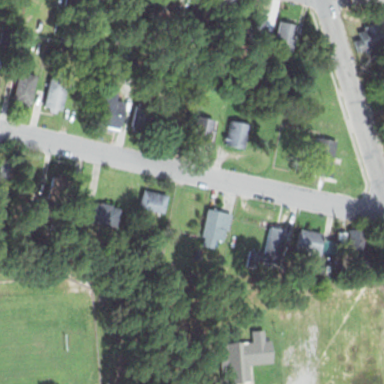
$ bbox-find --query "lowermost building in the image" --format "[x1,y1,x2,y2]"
[222,328,276,384]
